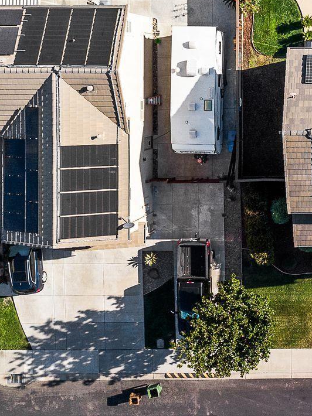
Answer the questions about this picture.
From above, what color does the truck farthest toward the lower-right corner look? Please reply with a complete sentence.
The color of the truck farthest toward the lower-right corner is black.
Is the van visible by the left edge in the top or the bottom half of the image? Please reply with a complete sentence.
You can find the van visible by the left edge in the bottom half.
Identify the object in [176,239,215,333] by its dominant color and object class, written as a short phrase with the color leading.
black truck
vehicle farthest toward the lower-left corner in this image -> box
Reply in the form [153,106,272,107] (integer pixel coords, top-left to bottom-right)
[6,243,50,299]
